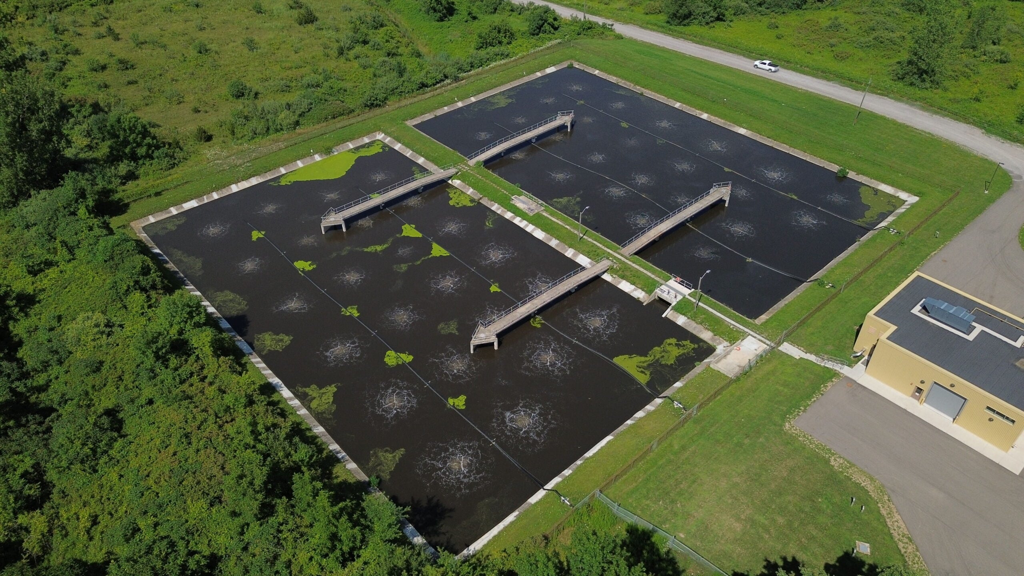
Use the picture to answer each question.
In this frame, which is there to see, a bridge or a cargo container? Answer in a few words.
bridge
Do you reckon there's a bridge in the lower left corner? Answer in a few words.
No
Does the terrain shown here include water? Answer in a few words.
Yes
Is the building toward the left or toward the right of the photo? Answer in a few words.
right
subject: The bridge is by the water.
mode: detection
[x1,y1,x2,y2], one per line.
[639,270,700,321]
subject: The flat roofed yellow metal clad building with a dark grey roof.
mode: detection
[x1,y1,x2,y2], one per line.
[853,270,1024,452]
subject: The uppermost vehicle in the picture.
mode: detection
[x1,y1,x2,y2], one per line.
[753,59,780,72]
